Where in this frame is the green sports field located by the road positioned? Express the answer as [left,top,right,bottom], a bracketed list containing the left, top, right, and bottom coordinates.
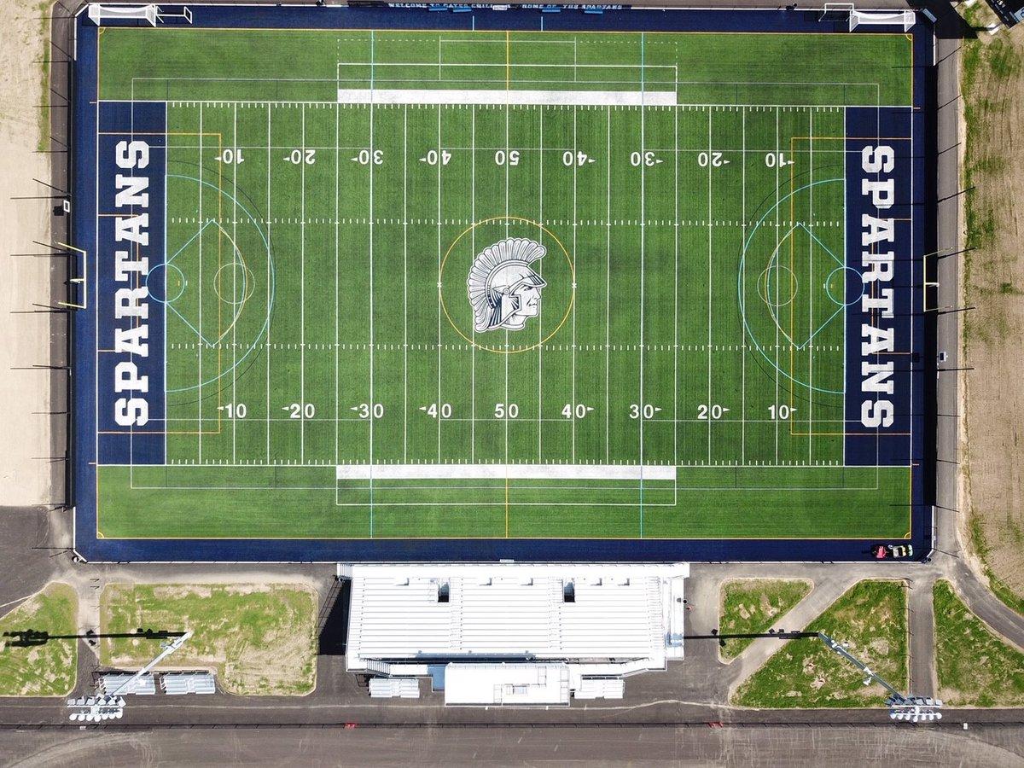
[74,4,933,562]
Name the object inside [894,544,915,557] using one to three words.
vehicle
